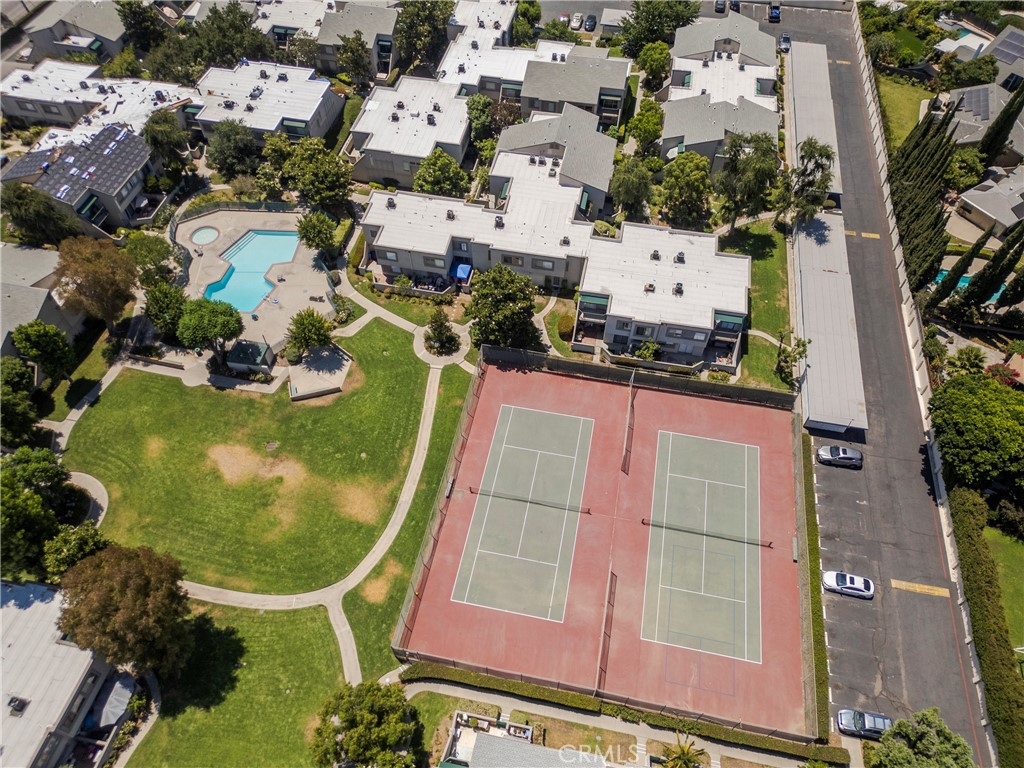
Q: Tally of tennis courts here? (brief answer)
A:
two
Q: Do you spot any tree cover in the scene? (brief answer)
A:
Yes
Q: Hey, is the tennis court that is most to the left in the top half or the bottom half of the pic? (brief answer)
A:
bottom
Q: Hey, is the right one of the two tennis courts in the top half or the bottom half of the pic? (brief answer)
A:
bottom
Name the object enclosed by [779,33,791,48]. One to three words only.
vehicle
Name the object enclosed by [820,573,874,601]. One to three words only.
car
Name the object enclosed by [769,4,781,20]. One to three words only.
vehicle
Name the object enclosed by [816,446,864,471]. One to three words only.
car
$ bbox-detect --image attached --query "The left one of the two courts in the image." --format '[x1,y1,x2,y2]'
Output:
[398,362,638,690]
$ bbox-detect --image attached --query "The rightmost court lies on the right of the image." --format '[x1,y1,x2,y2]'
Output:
[596,385,806,735]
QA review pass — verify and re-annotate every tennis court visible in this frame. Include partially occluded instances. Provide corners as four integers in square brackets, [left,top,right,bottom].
[596,385,806,735]
[398,362,638,690]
